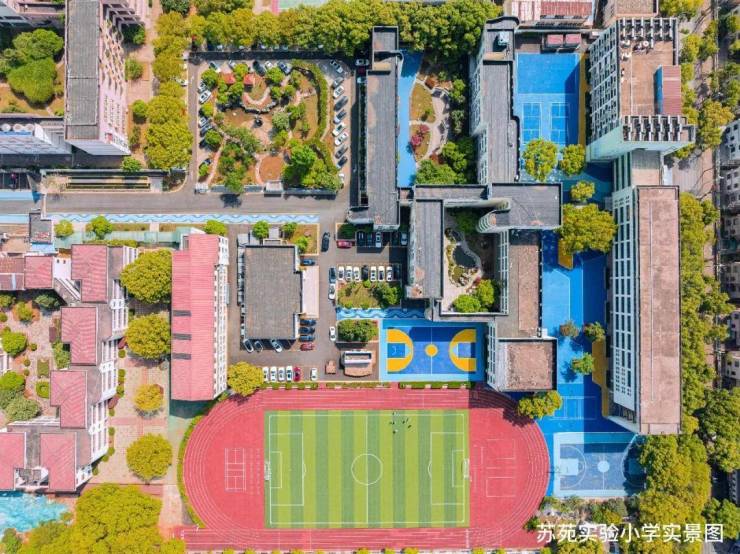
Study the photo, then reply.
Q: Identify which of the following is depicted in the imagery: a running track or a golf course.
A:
running track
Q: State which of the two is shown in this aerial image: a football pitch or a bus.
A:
football pitch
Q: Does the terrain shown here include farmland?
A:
No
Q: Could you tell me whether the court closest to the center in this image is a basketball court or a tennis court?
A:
basketball court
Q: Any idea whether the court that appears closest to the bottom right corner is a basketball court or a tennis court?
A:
basketball court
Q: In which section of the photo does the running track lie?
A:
bottom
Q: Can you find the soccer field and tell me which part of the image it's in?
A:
bottom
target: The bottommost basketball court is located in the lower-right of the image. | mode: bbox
[553,433,652,497]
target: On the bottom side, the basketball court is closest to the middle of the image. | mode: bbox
[379,319,488,382]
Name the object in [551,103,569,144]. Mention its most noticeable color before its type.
blue sports court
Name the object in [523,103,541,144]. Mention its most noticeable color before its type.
blue sports court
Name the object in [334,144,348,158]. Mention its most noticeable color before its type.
gray vehicle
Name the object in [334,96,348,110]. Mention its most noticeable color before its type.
gray vehicle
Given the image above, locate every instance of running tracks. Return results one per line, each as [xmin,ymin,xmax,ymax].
[166,387,559,551]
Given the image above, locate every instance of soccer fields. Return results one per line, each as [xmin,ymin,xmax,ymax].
[265,410,469,527]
